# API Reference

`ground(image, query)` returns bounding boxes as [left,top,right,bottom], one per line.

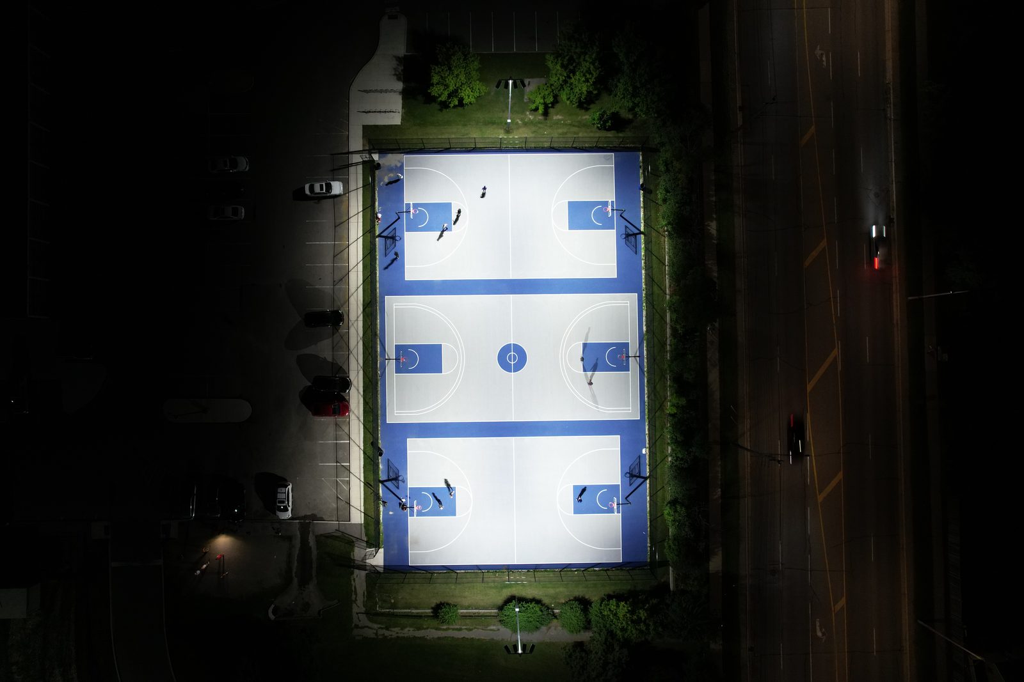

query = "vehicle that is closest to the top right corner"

[867,227,888,264]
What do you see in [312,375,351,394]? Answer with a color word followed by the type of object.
black car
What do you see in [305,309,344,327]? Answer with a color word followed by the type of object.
black car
